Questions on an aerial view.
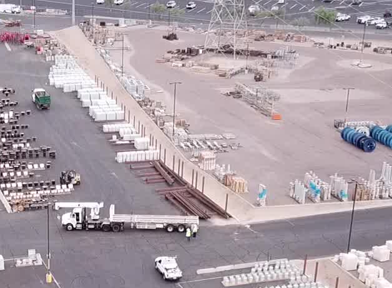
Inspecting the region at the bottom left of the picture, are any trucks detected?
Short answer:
Yes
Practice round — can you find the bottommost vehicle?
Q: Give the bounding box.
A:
[152,252,187,279]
